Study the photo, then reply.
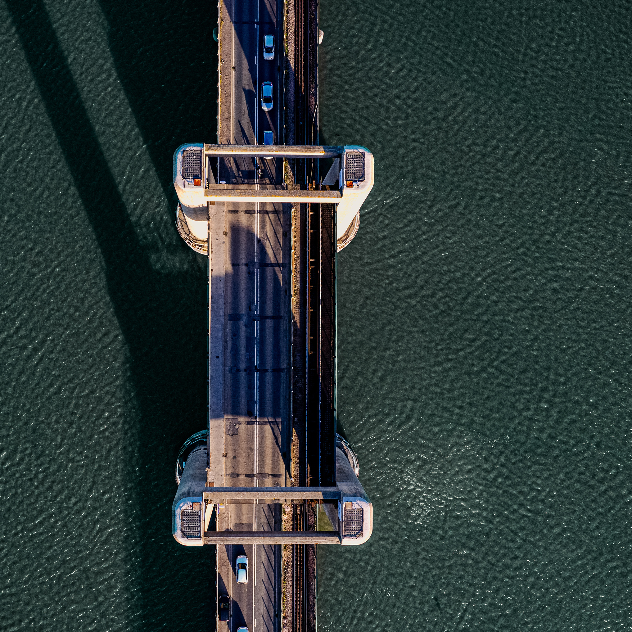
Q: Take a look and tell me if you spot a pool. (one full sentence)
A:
No, there appears to be no pool in this shot.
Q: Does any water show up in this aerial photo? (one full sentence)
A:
Yes, the picture does contain water.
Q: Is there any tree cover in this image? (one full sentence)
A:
No, tree cover can't be seen anywhere here.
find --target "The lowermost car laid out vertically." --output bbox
[218,594,230,623]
